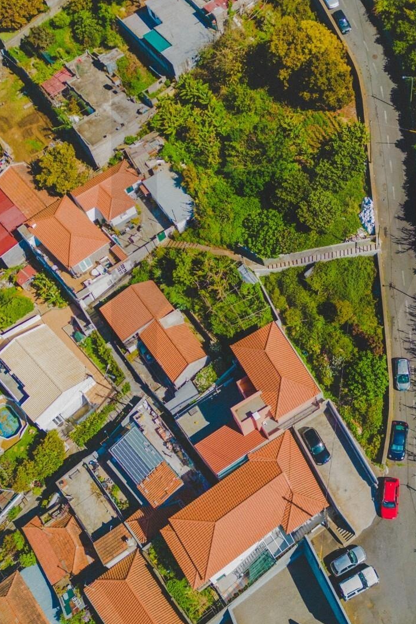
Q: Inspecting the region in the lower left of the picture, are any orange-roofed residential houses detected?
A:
Yes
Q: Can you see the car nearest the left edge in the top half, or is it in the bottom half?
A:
bottom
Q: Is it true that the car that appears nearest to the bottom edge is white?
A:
Yes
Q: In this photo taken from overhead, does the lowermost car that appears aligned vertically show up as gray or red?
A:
red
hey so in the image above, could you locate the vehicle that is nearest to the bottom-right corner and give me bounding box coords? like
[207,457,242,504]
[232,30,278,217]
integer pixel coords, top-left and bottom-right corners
[338,570,380,605]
